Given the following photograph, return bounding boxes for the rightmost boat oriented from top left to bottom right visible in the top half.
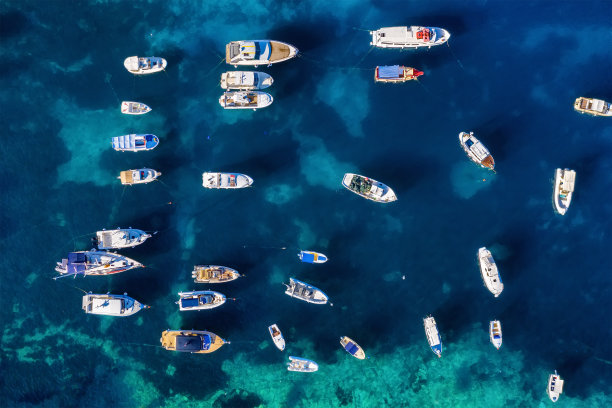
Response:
[458,131,496,170]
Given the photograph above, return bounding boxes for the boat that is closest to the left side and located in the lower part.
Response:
[51,260,67,274]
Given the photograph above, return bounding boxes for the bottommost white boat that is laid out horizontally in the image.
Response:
[287,356,318,372]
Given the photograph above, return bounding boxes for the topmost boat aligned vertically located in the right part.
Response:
[553,165,576,215]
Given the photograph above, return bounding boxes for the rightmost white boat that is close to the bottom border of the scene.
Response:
[546,371,564,403]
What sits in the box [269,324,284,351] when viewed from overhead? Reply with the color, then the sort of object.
white boat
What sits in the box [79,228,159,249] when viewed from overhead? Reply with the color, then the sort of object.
white boat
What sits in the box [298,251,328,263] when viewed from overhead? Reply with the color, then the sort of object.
blue boat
